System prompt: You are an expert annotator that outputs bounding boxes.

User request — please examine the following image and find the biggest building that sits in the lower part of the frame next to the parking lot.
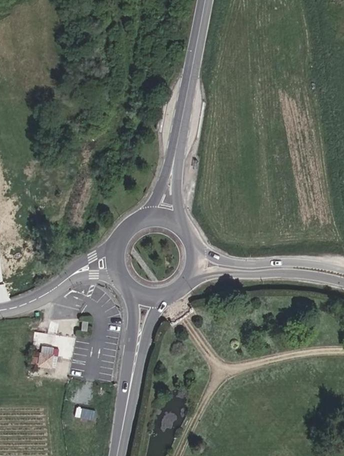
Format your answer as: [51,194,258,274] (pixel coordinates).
[32,322,76,370]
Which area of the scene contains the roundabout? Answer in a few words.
center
